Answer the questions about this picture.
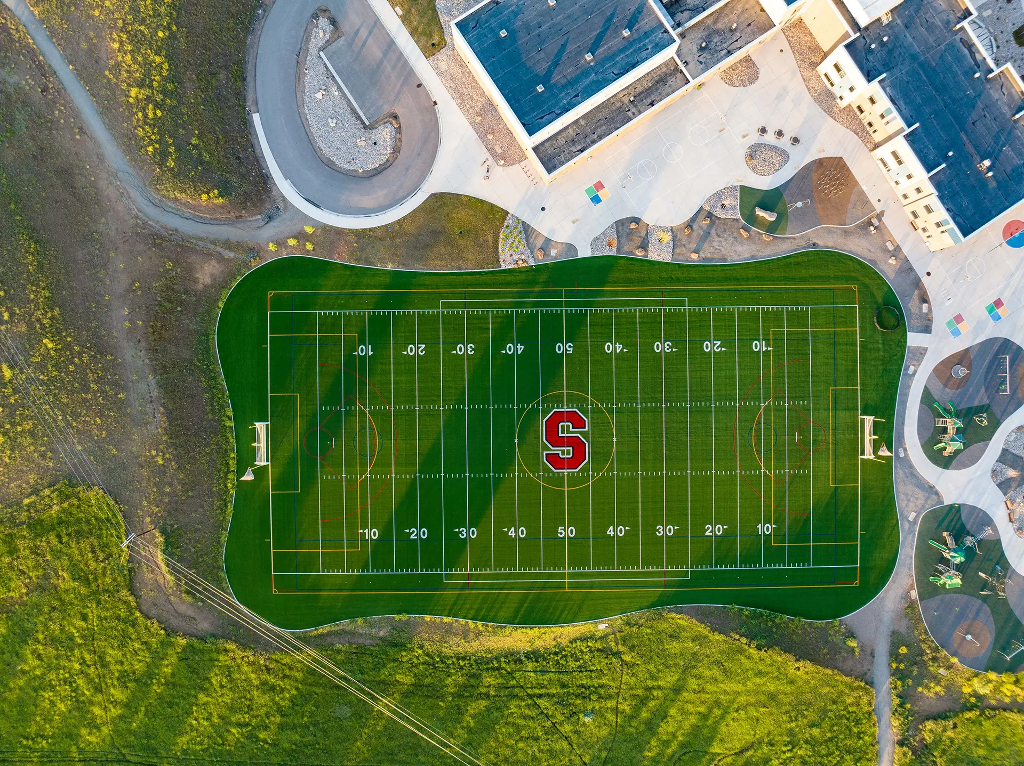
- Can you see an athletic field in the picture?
Yes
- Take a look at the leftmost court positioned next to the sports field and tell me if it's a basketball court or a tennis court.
basketball court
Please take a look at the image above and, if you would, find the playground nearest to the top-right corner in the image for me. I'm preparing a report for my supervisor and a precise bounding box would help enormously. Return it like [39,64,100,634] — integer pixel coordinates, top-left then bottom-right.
[813,157,858,226]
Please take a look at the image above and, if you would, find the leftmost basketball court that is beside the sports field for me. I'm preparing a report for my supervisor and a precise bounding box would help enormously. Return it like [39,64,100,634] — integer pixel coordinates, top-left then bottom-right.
[606,94,741,211]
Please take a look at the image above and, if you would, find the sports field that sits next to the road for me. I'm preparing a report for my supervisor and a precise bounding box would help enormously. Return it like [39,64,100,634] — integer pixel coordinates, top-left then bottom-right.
[216,248,908,632]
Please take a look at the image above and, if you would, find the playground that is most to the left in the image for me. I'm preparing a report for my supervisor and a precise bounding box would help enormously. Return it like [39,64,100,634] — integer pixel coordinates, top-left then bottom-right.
[740,185,788,235]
